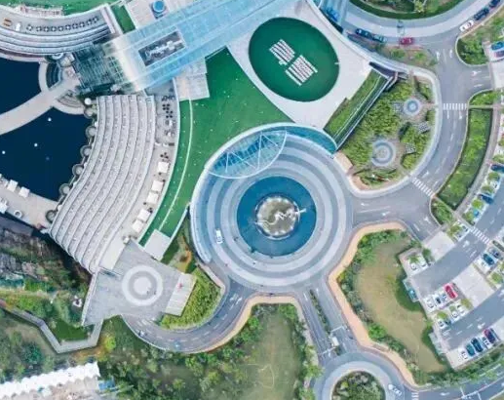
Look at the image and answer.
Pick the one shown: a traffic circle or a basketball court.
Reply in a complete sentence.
The one in the frame is a traffic circle.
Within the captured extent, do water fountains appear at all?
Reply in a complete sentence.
Yes, I can see a water fountain in this picture.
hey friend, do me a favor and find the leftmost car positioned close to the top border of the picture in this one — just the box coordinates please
[328,6,340,21]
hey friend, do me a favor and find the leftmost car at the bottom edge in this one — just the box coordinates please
[389,385,404,397]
